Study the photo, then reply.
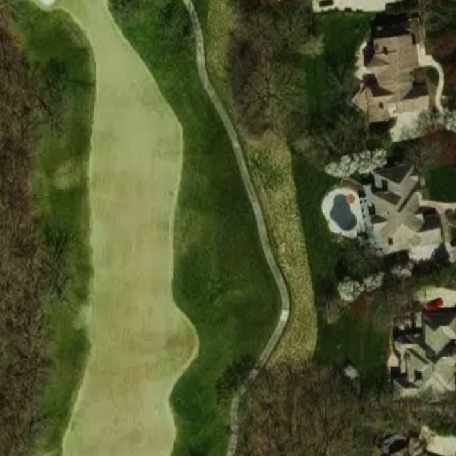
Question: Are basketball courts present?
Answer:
No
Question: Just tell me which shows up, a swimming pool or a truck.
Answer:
swimming pool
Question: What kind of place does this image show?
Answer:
golf course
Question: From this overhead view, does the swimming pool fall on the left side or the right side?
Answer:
right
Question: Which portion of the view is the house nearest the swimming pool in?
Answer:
right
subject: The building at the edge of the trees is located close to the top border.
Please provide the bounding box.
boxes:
[353,16,432,121]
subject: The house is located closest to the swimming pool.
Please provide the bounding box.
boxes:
[368,157,456,275]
